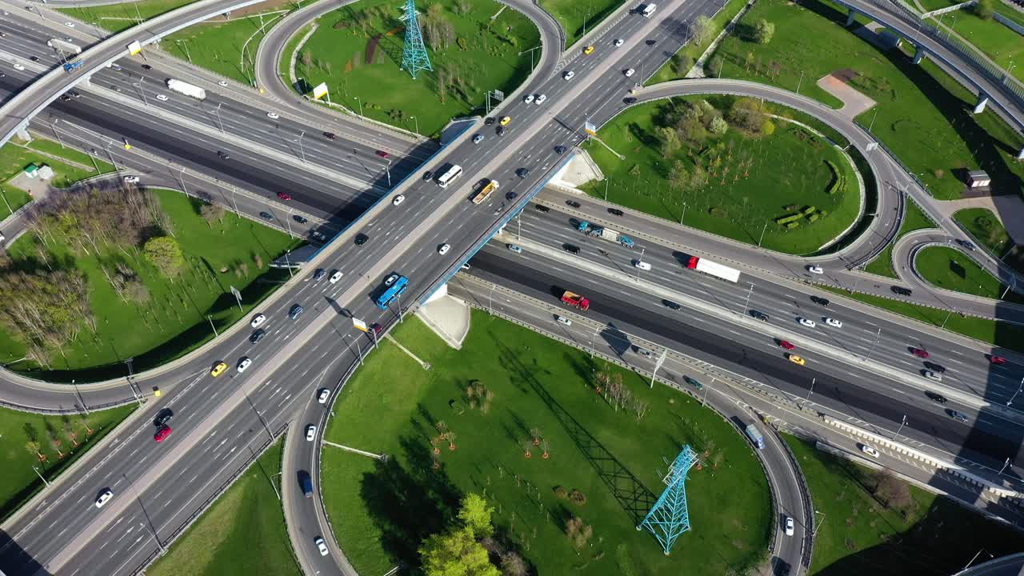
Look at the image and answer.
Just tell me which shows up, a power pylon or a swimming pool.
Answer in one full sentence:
This aerial view contains a power pylon.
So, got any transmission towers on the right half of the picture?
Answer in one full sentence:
Yes, a transmission tower appears on the right half of the picture.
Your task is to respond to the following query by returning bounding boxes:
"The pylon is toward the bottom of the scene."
[636,443,696,555]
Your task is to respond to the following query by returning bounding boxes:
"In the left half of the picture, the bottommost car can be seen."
[315,537,328,557]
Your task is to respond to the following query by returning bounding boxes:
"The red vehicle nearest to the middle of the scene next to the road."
[560,291,589,311]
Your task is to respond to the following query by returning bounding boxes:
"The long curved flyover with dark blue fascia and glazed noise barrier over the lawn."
[806,0,1024,157]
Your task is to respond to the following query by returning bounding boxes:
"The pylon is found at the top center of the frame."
[399,0,434,79]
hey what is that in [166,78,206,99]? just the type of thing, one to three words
truck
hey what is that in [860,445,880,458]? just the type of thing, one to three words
vehicle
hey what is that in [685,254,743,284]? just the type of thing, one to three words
truck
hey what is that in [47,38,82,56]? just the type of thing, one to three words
vehicle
